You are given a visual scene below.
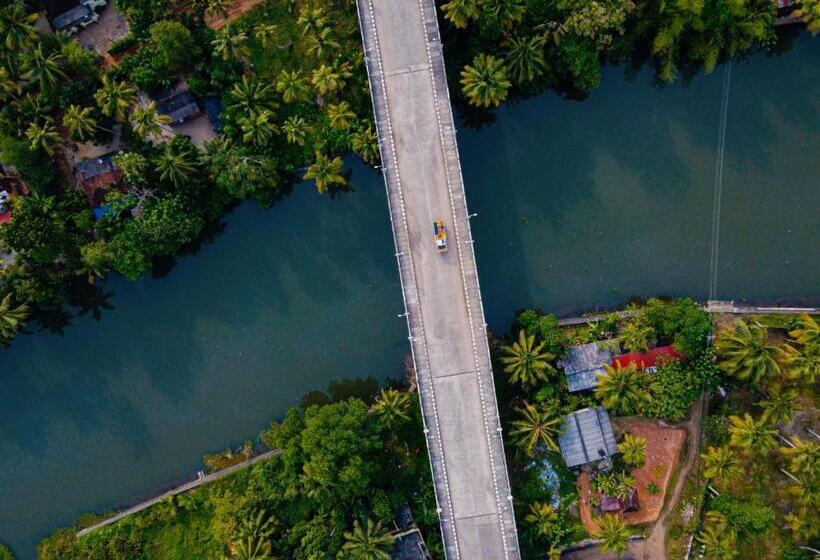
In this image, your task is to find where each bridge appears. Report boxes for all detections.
[356,0,521,560]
